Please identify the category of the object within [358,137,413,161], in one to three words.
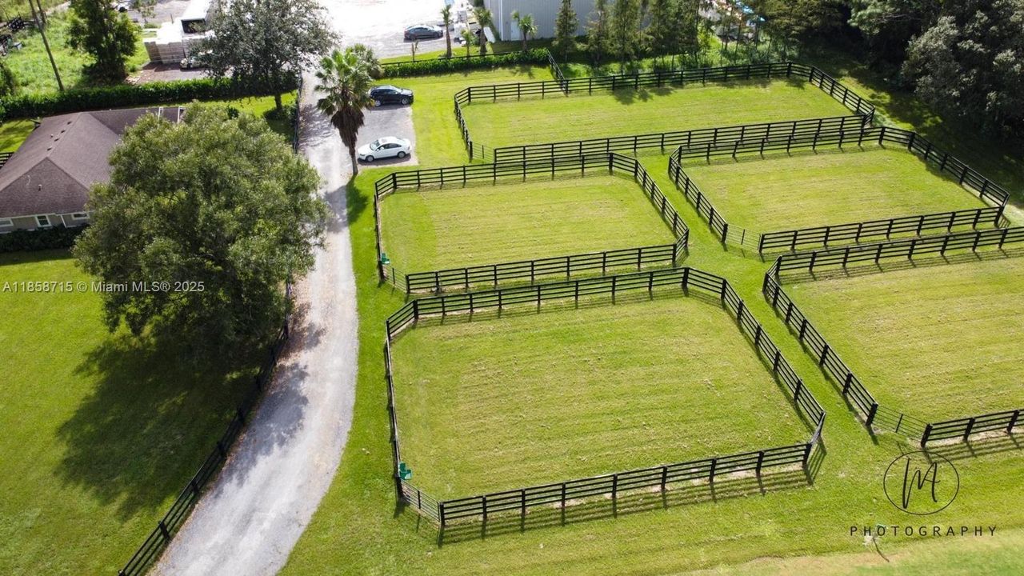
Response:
car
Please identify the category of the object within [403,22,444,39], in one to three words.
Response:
car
